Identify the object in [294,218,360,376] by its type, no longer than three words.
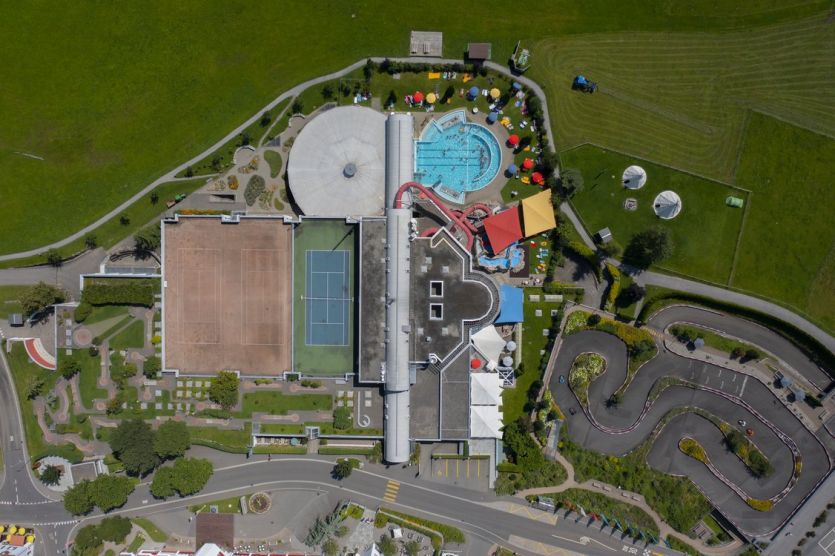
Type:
tennis court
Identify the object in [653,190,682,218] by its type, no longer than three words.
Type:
tent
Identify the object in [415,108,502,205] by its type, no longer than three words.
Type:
swimming pool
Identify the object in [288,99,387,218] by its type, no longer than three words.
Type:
building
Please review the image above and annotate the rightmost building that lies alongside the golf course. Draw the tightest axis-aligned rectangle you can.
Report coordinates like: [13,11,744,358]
[411,220,501,440]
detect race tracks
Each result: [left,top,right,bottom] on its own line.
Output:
[548,304,835,537]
